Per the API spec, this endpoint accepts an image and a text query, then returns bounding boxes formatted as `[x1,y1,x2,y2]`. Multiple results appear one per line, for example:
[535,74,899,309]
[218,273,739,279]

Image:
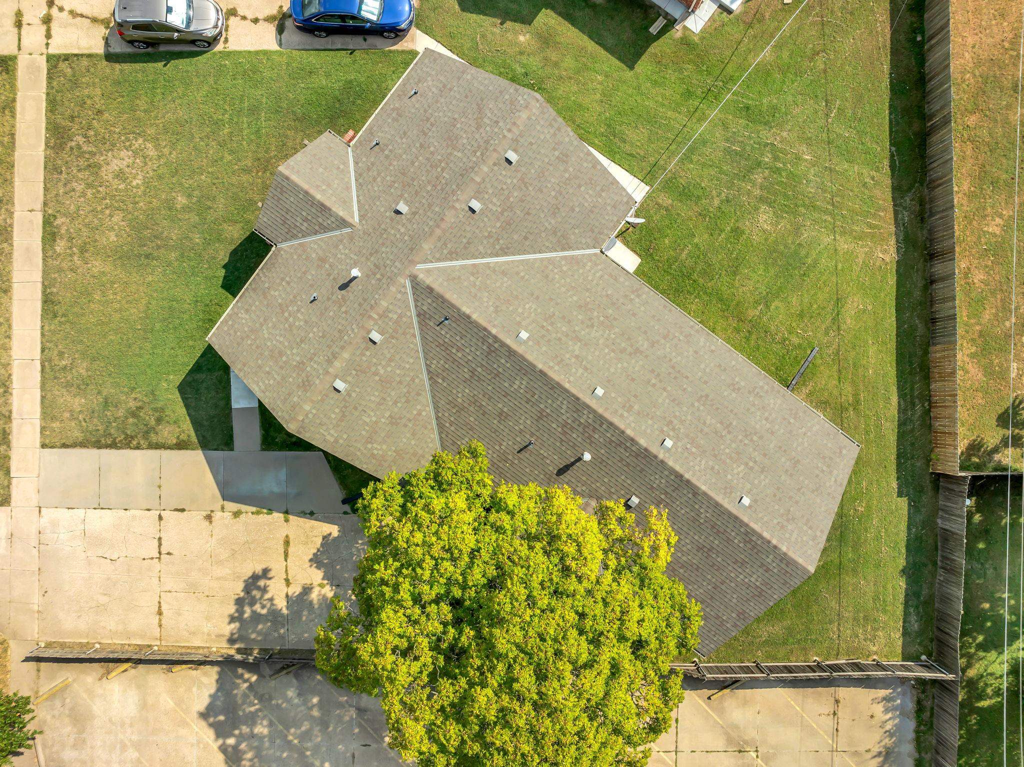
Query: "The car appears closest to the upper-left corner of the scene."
[112,0,228,48]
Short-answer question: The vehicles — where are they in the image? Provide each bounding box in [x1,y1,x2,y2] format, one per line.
[112,0,228,48]
[291,0,416,39]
